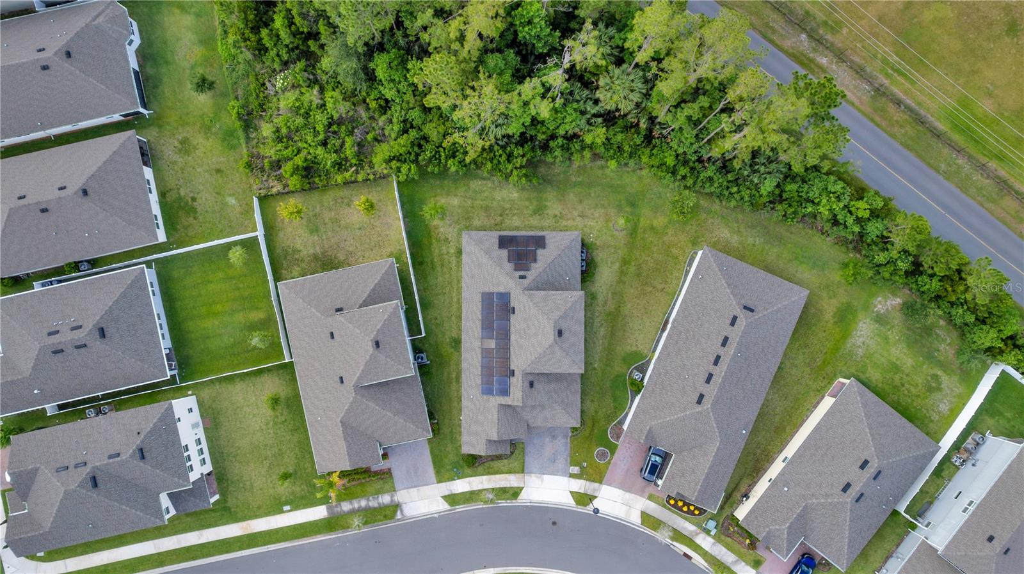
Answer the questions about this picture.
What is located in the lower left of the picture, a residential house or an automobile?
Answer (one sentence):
It is a residential house that can be seen in the lower left of the picture.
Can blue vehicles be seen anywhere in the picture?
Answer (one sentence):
Yes, there's a blue vehicle here.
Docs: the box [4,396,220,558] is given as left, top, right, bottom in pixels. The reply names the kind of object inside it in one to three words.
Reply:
house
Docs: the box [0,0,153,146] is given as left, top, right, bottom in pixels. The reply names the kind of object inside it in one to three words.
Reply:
house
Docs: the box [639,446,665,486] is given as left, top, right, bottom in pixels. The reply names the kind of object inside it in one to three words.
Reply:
car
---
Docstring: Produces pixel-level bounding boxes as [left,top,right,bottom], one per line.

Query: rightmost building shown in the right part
[875,435,1024,574]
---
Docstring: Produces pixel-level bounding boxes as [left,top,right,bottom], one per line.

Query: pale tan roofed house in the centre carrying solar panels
[462,231,585,455]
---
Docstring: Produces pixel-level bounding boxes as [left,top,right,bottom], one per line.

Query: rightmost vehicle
[789,551,816,574]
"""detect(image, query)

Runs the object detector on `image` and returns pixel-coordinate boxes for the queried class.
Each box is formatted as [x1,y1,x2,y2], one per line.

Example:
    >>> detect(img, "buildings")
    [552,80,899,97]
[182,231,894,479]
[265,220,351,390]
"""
[0,129,166,278]
[0,264,177,417]
[0,0,153,146]
[278,258,433,475]
[4,396,220,558]
[0,0,82,14]
[462,231,585,455]
[733,377,941,572]
[875,435,1024,574]
[624,246,809,514]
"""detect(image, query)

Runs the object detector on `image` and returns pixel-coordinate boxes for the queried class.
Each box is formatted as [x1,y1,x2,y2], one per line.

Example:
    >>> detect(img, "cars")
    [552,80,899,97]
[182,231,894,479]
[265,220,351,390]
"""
[789,551,816,574]
[639,446,665,486]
